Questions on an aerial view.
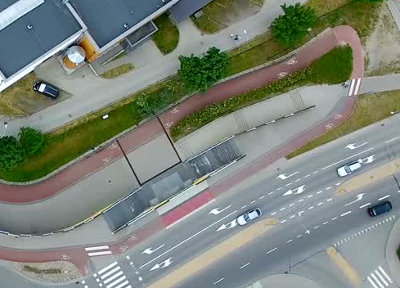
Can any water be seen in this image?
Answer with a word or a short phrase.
No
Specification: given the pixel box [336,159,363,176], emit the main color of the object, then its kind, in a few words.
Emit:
white car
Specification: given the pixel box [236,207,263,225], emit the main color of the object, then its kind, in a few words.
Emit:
white car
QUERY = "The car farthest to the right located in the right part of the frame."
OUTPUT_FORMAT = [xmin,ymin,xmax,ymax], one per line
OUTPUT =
[365,201,394,217]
